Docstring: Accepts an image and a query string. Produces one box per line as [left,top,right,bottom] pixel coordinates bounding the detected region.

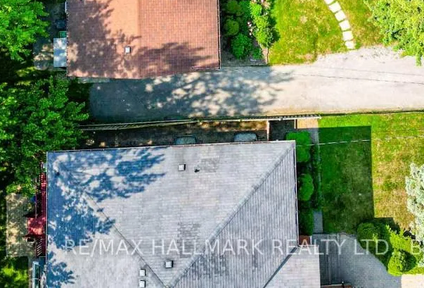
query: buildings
[45,131,322,288]
[65,0,222,77]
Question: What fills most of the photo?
buildings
